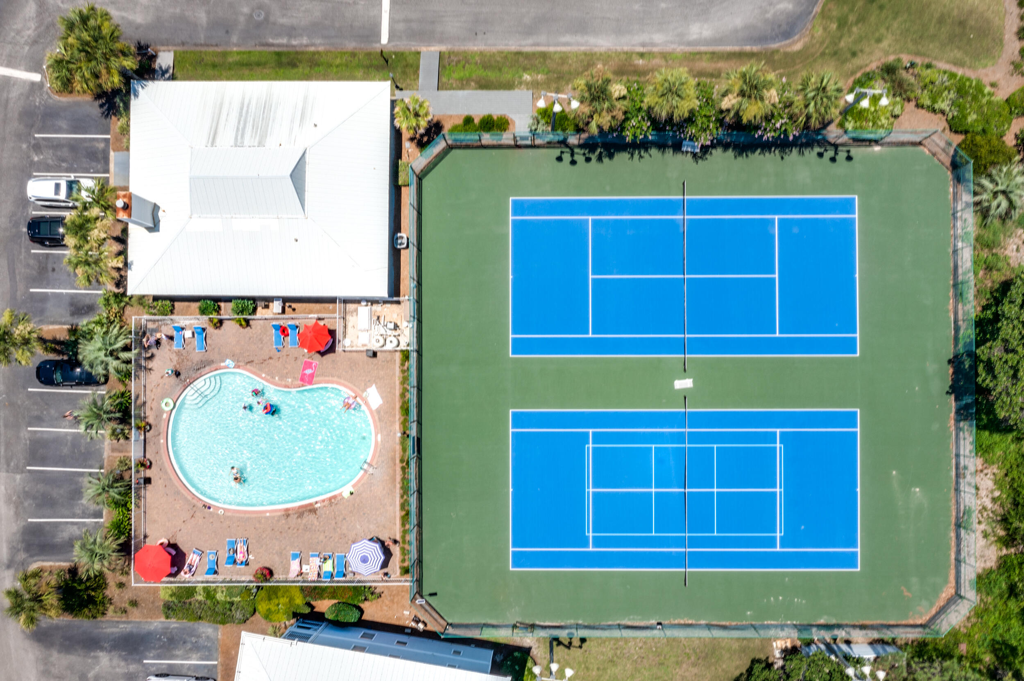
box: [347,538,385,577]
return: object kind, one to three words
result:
umbrella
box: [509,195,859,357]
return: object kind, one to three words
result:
tennis court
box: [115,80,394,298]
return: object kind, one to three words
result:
house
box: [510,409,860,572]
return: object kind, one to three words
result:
tennis court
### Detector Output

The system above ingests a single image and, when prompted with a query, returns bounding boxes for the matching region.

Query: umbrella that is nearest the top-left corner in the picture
[298,319,331,353]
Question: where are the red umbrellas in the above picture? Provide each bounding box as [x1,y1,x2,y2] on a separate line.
[136,547,172,581]
[298,319,331,353]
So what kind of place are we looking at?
sports ground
